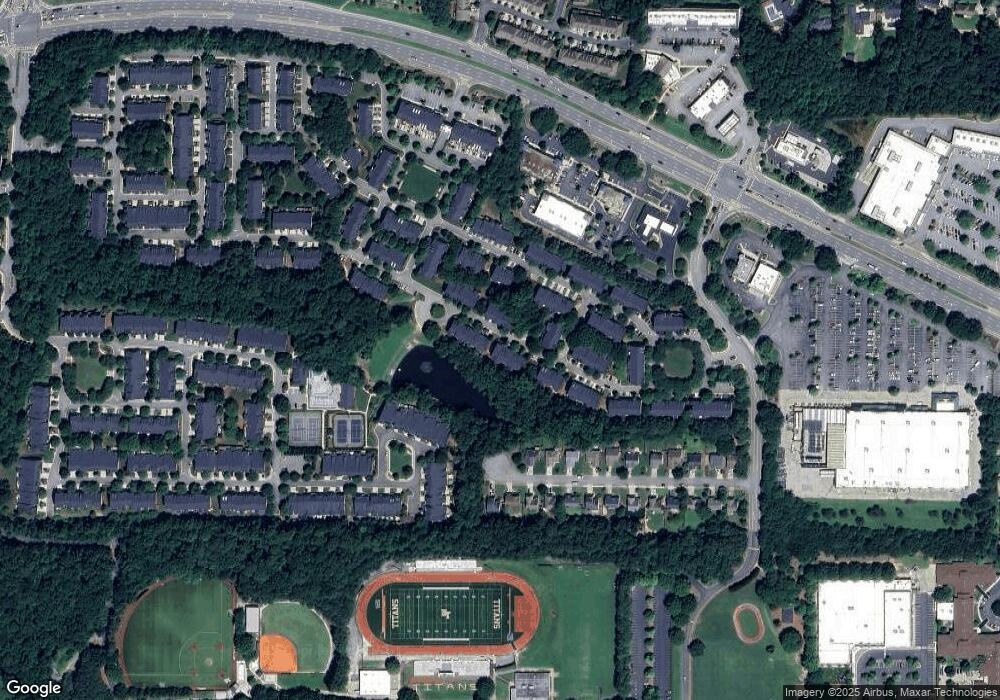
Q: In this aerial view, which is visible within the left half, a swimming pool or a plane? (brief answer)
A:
swimming pool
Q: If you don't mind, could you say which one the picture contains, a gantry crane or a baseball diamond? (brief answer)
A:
baseball diamond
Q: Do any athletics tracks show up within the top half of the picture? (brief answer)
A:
No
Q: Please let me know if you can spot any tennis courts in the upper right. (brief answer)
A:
No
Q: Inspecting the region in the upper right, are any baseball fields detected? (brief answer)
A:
No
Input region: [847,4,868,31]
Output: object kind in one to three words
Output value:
house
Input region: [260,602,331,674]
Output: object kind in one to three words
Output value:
baseball field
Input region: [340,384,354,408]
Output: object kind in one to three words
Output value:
building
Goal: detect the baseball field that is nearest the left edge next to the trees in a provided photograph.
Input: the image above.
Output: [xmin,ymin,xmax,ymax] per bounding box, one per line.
[117,574,236,692]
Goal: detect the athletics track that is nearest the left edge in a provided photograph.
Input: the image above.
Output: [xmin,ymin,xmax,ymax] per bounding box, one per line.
[357,571,540,655]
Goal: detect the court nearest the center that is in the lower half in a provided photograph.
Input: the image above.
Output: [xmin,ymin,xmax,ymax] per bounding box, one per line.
[335,414,365,447]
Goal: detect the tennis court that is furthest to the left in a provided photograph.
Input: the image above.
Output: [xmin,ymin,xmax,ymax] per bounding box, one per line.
[289,412,322,446]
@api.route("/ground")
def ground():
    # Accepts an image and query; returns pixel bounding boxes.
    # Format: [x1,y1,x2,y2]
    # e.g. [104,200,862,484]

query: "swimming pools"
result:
[309,370,340,408]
